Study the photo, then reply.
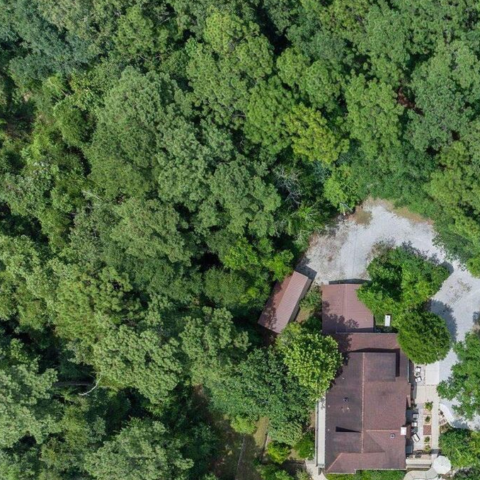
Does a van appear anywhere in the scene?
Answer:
No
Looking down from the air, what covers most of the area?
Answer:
trees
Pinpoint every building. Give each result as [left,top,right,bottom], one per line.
[315,332,410,473]
[258,269,309,331]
